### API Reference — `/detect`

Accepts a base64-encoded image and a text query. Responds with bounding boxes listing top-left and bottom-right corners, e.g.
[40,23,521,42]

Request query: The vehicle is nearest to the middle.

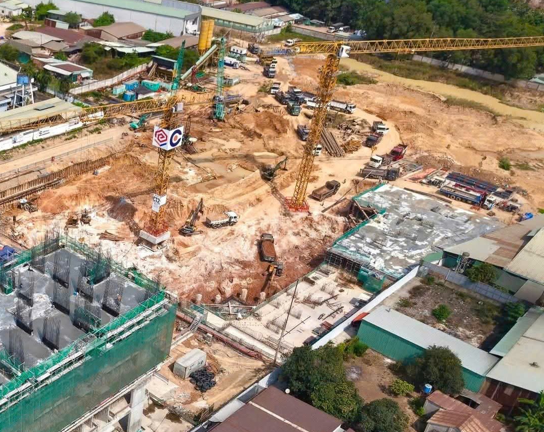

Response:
[260,231,278,257]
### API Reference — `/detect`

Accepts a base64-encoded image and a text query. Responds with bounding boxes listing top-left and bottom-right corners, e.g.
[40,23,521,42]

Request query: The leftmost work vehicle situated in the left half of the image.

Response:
[5,193,34,212]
